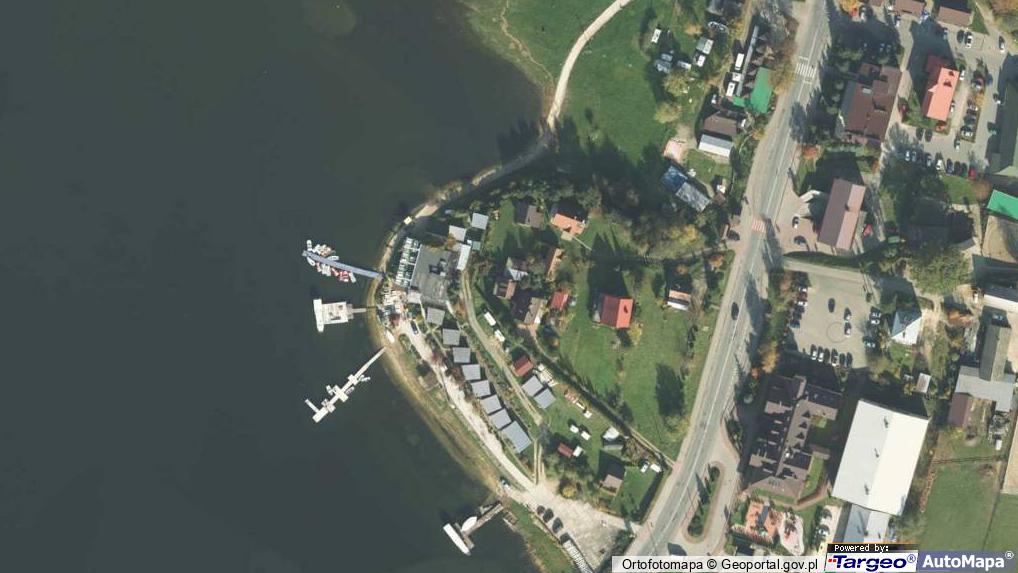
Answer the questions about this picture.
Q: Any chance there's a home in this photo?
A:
Yes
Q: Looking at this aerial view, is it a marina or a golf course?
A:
marina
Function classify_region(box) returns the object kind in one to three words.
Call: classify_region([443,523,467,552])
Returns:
boat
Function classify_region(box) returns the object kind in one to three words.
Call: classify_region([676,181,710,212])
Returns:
barn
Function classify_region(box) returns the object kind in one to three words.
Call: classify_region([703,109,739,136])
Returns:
house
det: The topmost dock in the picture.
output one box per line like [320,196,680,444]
[301,250,384,279]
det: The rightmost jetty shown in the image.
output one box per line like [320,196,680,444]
[453,502,505,549]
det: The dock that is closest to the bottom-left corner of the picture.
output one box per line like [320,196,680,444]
[307,351,383,423]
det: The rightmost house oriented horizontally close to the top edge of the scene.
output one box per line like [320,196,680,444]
[937,5,972,26]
